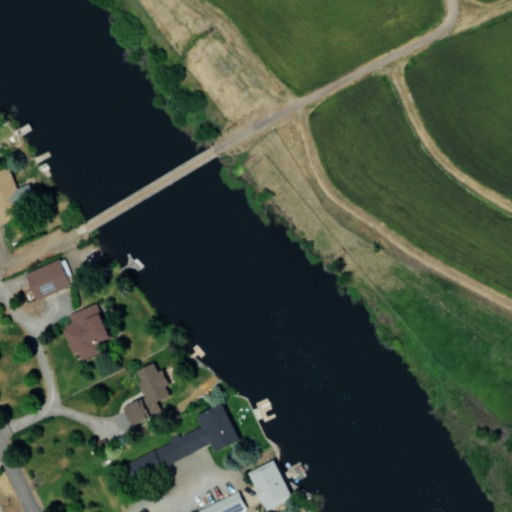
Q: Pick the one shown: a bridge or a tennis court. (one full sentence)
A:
The image shows a bridge.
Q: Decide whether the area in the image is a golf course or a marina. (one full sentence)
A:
This image shows a marina.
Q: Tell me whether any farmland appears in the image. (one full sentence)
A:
Yes, some farmland is visible.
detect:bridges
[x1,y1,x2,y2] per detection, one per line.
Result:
[76,148,220,237]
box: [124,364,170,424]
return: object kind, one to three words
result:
house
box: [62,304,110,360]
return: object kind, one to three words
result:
house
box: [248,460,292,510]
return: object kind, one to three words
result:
building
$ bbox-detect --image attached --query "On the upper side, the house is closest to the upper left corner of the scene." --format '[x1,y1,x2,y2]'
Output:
[0,170,33,223]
